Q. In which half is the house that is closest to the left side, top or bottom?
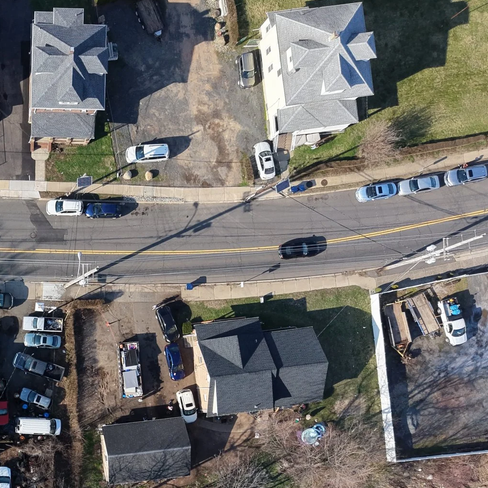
top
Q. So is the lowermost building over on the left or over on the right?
left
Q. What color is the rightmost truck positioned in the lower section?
white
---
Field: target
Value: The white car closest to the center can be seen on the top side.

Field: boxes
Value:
[251,141,277,182]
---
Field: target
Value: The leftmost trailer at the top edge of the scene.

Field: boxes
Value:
[136,0,163,36]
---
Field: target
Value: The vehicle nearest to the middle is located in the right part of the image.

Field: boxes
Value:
[278,238,319,260]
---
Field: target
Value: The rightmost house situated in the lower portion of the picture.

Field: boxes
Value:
[177,317,328,418]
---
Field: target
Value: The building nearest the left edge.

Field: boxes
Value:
[28,7,122,150]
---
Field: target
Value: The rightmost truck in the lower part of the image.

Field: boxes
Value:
[433,296,468,347]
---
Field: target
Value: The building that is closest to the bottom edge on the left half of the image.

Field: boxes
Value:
[100,416,191,484]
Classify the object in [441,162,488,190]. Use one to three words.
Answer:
car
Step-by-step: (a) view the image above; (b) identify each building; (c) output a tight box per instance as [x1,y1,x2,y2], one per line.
[251,1,377,161]
[100,416,191,484]
[177,317,328,418]
[28,7,122,150]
